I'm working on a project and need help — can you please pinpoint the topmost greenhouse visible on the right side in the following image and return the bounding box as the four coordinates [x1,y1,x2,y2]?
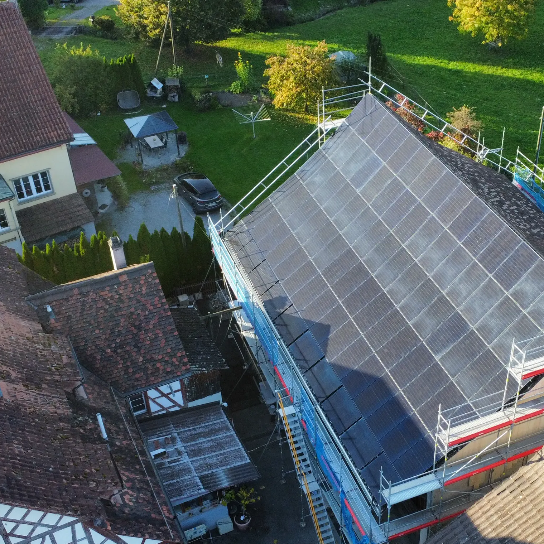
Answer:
[330,48,359,83]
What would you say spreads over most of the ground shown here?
buildings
